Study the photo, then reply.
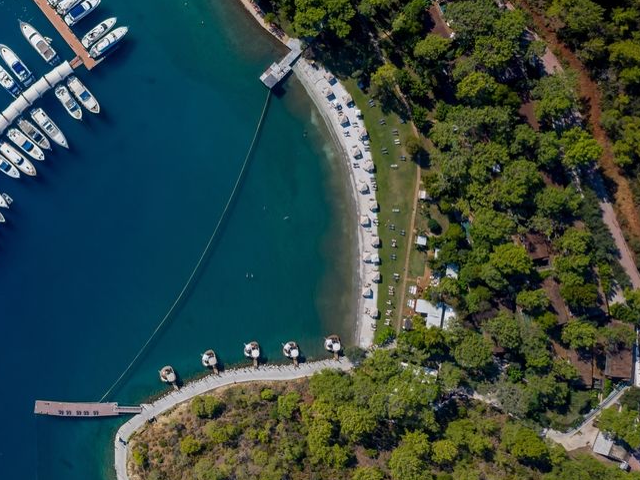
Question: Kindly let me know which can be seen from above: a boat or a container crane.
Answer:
boat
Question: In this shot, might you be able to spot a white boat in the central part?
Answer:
No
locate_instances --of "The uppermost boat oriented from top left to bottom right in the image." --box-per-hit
[17,18,57,62]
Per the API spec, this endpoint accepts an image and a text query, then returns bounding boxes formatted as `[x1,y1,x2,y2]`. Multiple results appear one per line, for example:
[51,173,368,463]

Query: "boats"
[0,155,21,178]
[64,0,101,28]
[58,0,83,17]
[19,119,52,149]
[81,19,117,50]
[2,192,12,204]
[89,26,129,60]
[7,128,44,160]
[17,18,57,62]
[0,45,33,84]
[66,75,100,113]
[0,142,36,176]
[48,0,64,8]
[56,87,81,119]
[0,65,20,94]
[31,108,68,148]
